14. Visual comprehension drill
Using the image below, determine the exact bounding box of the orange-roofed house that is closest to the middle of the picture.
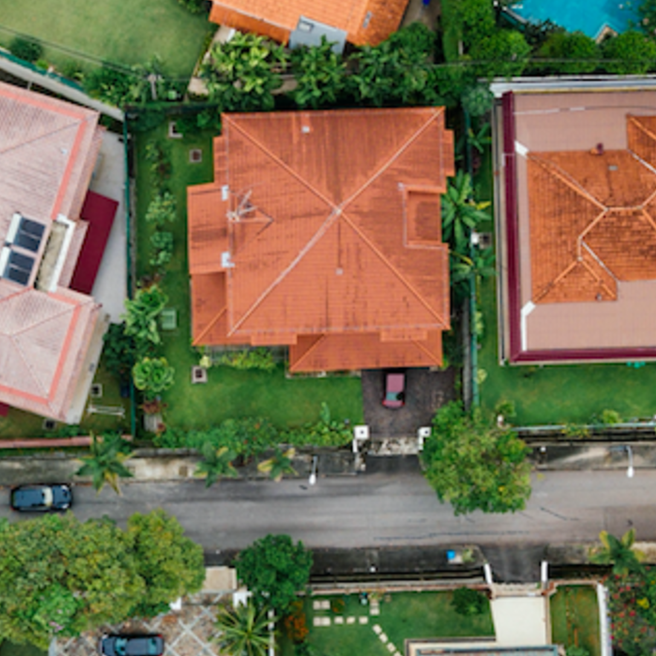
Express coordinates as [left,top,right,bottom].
[187,105,455,372]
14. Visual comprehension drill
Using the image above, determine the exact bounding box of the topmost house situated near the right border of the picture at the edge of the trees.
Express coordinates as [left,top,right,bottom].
[479,76,656,368]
